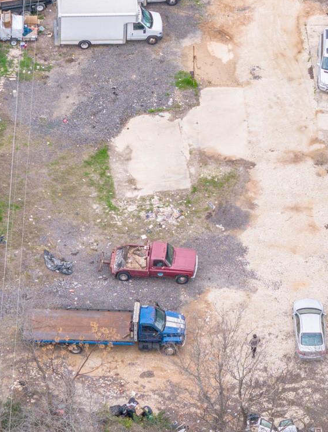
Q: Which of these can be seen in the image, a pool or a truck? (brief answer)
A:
truck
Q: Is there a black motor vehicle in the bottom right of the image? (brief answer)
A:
No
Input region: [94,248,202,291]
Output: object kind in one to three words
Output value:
truck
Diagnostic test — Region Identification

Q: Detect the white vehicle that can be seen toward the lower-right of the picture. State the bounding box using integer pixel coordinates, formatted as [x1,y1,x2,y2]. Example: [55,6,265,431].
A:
[288,303,327,367]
